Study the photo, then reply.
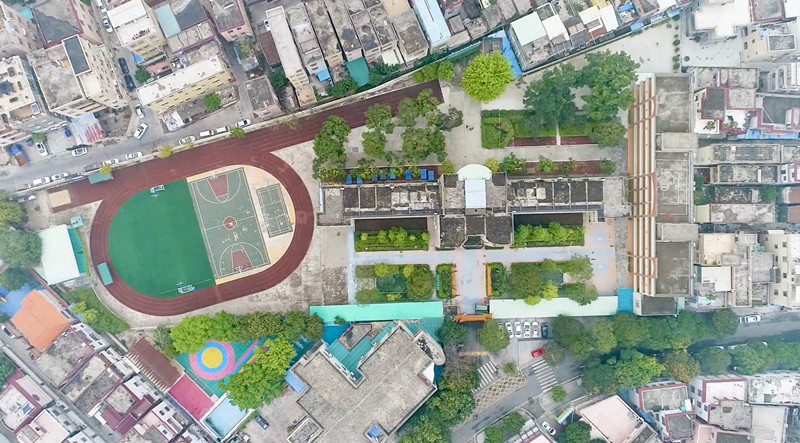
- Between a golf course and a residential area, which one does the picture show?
residential area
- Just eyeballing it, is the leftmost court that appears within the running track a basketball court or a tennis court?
basketball court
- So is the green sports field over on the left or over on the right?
left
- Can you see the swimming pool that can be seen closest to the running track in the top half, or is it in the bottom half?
bottom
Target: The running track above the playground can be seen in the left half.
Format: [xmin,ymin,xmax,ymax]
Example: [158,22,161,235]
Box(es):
[48,80,443,316]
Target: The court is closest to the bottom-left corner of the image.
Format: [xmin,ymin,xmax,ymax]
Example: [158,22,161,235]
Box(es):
[168,373,216,422]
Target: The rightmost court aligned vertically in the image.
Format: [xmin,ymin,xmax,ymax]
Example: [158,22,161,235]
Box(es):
[256,184,292,238]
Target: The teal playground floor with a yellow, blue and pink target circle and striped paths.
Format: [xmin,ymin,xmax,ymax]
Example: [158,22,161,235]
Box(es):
[179,331,321,403]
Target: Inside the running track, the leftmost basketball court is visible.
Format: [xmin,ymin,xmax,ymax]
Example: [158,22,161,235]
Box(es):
[186,165,271,283]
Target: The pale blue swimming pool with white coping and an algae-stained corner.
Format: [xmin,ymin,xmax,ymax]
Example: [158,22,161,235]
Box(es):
[201,395,248,441]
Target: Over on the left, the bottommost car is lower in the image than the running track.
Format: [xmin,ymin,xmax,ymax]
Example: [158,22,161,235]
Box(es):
[255,413,270,430]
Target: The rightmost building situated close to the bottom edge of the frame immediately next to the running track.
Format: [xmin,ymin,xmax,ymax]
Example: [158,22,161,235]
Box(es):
[297,319,446,443]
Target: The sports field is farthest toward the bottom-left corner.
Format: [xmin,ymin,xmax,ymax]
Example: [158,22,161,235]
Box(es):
[108,178,212,298]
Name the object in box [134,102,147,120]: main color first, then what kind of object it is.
white vehicle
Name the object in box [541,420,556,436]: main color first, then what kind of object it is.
white car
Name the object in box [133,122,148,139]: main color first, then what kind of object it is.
white car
